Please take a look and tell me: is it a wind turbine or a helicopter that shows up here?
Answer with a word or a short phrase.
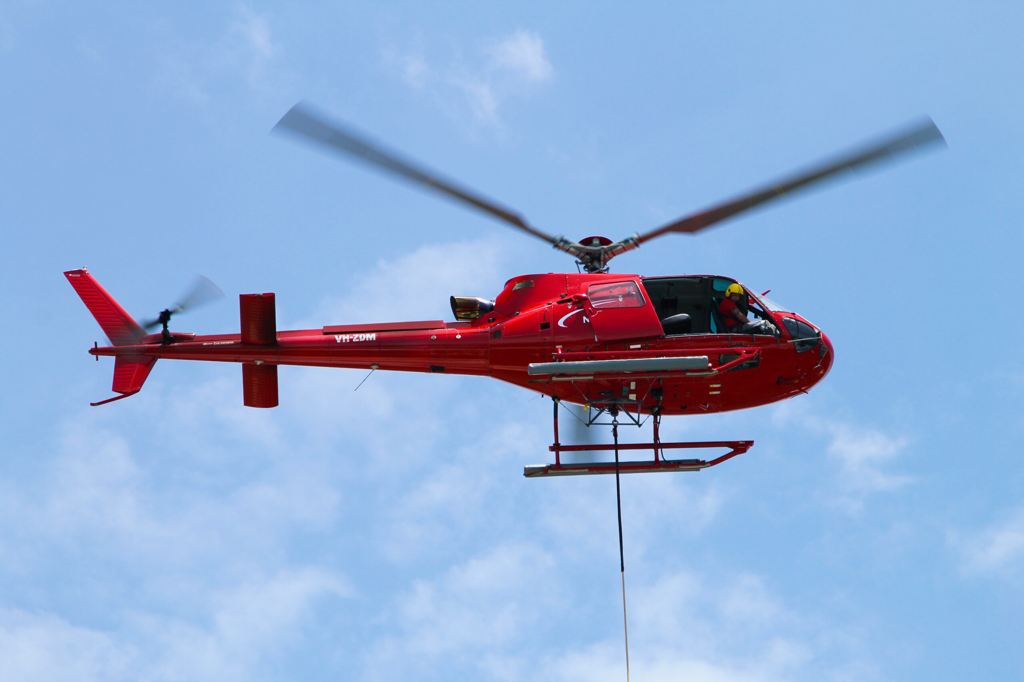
helicopter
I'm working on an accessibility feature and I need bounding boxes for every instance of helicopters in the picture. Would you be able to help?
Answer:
[64,107,942,476]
